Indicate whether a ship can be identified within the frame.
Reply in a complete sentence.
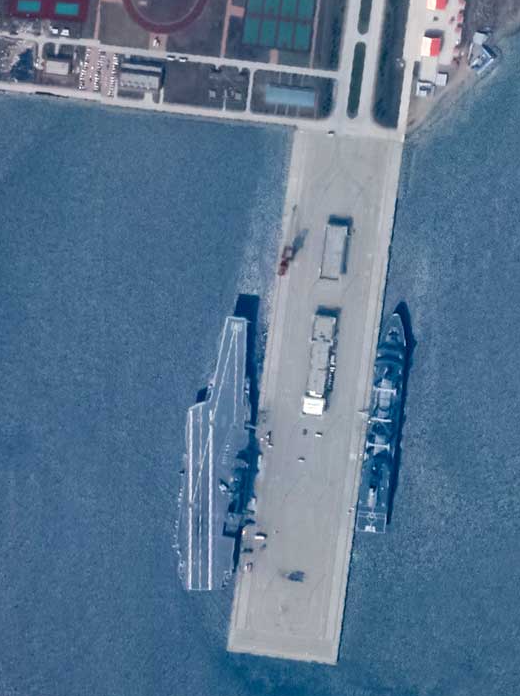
Yes, the image includes a ship.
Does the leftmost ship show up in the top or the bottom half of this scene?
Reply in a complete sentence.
The leftmost ship is in the bottom half of the image.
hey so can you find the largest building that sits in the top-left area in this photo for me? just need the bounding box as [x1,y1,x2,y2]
[119,62,161,93]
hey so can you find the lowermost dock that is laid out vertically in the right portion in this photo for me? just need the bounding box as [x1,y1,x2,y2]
[227,129,404,665]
